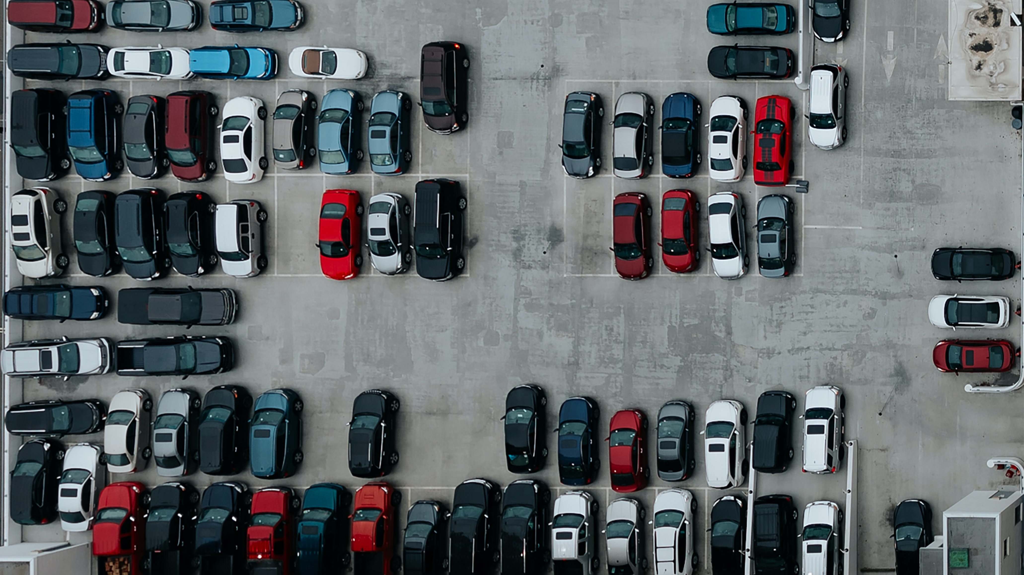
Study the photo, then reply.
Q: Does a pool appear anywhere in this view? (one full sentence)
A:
No, this view has no pool in it.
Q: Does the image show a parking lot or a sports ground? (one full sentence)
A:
What you see here is a parking lot.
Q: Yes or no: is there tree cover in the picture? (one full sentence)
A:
No, there's no tree cover in this view.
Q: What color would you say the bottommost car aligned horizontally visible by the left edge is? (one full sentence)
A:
The bottommost car aligned horizontally visible by the left edge looks black in the image.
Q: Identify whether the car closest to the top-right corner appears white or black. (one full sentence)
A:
In this view, the car closest to the top-right corner is black.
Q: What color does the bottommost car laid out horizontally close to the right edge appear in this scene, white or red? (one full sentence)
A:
The bottommost car laid out horizontally close to the right edge looks red in the image.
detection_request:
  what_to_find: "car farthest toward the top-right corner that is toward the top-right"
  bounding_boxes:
[808,0,850,43]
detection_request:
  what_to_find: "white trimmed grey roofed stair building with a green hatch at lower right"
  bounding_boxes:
[943,491,1024,575]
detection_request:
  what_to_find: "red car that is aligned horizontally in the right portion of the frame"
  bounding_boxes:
[933,336,1015,377]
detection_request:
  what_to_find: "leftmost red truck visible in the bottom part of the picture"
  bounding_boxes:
[94,481,151,575]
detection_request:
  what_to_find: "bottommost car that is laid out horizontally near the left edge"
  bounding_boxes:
[5,397,107,443]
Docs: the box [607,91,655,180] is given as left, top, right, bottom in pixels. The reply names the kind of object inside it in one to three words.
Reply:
car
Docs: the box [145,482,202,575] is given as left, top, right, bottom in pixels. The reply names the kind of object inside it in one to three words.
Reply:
truck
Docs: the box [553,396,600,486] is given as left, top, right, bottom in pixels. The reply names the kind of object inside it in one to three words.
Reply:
car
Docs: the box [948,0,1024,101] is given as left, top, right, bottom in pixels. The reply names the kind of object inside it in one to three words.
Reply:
shed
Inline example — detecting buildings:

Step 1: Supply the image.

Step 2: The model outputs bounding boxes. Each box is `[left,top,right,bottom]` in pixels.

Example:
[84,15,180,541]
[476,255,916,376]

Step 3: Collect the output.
[943,491,1024,575]
[948,0,1024,101]
[0,542,89,575]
